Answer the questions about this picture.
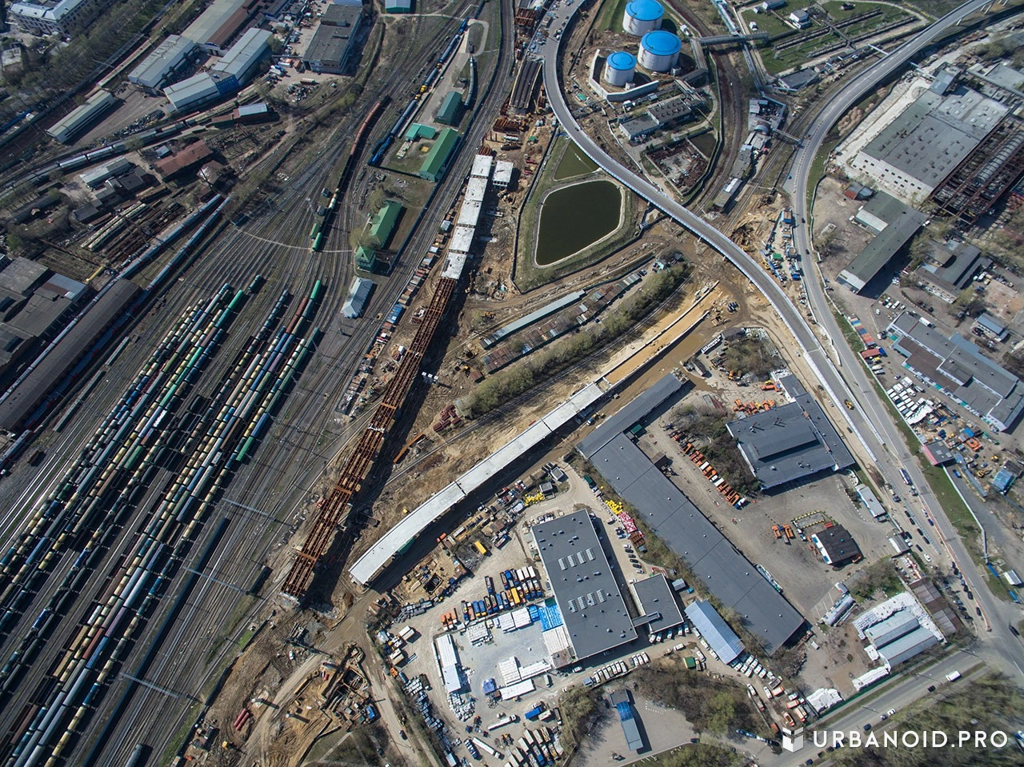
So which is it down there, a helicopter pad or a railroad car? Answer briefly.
railroad car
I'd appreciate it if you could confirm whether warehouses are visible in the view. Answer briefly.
Yes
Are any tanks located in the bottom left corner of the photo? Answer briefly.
No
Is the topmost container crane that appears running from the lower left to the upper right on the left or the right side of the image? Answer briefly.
right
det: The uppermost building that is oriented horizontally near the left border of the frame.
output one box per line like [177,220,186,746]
[10,0,111,36]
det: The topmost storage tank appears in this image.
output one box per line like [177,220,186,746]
[620,0,664,37]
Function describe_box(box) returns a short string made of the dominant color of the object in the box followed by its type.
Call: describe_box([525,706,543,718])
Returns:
blue vehicle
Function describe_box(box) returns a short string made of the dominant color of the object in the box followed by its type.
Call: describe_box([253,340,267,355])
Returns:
black rail car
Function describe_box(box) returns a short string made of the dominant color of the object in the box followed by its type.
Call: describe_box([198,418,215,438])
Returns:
black rail car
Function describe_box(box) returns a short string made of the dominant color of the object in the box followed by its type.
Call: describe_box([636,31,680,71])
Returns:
blue storage tank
